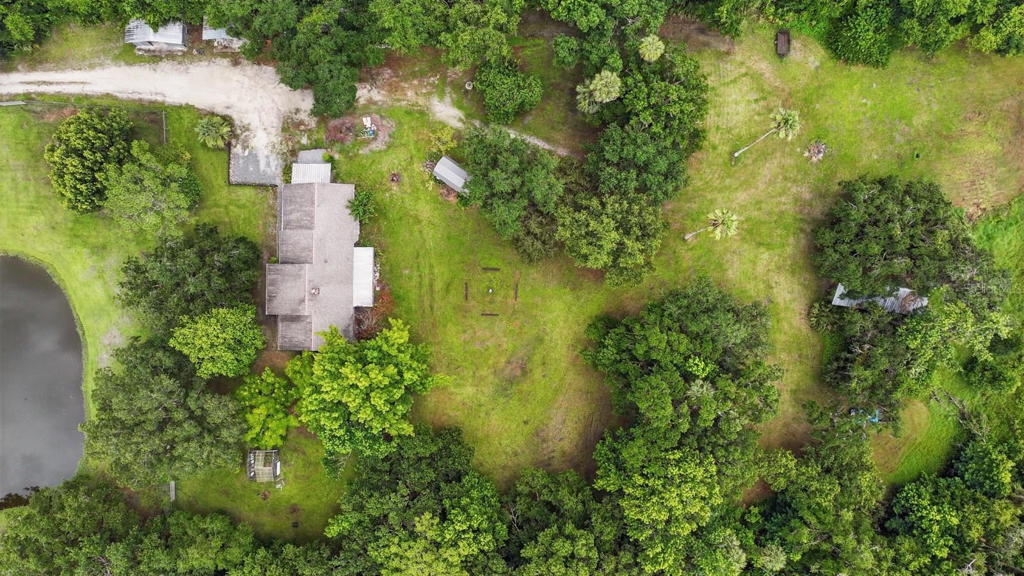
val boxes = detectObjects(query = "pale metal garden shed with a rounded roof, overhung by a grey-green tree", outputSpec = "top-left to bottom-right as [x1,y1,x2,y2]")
[430,157,469,194]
